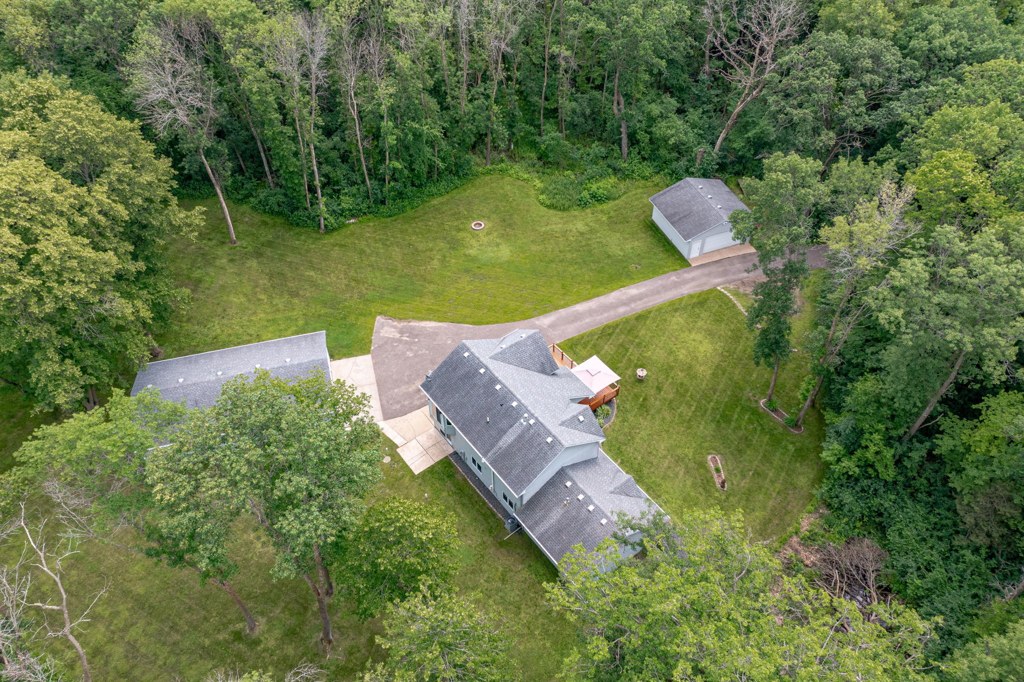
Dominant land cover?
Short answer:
trees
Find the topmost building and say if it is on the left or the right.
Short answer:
right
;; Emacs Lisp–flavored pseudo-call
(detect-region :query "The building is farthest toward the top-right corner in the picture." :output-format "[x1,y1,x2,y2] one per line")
[648,178,761,258]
